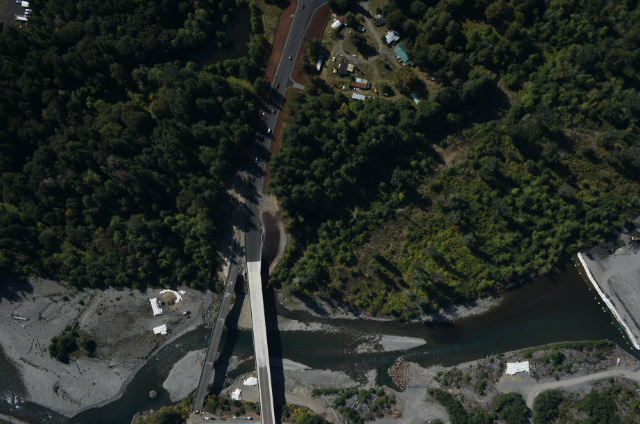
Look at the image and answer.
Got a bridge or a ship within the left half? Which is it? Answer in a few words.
bridge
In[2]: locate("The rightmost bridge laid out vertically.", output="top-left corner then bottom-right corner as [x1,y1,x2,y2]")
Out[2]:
[248,262,276,424]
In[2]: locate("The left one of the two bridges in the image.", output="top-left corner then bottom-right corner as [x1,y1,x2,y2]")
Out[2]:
[194,258,240,412]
